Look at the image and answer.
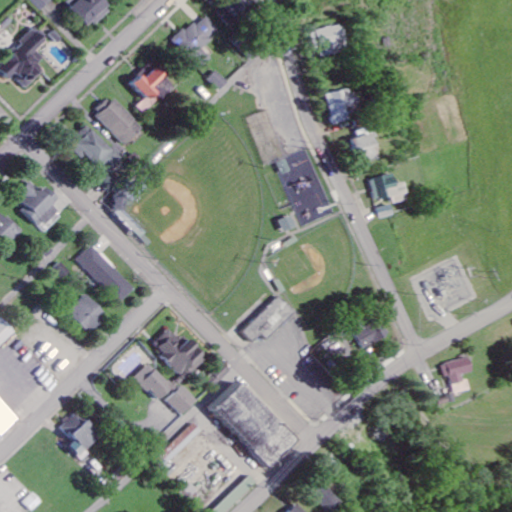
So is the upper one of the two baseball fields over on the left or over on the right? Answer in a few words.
left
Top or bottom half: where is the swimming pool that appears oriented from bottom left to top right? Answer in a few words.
bottom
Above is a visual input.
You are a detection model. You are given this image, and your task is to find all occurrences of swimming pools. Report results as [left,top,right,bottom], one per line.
[120,352,143,372]
[50,45,68,64]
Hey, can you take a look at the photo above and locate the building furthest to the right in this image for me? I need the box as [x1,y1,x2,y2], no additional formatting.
[440,356,474,398]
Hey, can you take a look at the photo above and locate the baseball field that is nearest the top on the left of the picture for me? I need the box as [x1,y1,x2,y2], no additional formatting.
[132,178,197,243]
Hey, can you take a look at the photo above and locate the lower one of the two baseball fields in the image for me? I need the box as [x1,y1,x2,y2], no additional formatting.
[280,244,325,294]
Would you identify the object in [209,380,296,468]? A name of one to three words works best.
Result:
building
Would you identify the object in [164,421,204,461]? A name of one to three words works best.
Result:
shed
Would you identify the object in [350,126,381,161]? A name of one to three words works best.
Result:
house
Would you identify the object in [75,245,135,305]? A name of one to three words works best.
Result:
house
